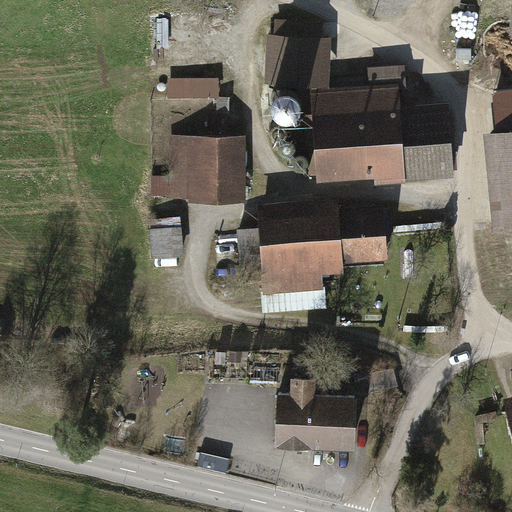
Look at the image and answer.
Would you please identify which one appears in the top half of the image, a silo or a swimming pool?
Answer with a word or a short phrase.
silo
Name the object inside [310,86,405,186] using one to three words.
barn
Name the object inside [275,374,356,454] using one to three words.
house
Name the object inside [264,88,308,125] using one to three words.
silo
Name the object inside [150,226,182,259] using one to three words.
shed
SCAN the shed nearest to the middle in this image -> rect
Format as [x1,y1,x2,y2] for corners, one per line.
[237,227,260,264]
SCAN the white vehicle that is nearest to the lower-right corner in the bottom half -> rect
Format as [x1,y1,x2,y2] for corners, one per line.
[448,350,471,364]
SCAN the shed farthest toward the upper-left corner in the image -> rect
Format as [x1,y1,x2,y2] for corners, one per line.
[166,78,218,99]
